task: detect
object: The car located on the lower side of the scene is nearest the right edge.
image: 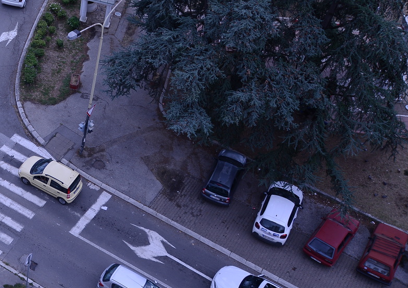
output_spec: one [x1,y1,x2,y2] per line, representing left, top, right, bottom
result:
[361,220,408,286]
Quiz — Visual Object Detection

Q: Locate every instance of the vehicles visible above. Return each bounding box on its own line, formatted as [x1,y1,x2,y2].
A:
[210,267,281,288]
[202,146,252,207]
[2,0,27,8]
[17,157,84,205]
[254,180,306,249]
[94,259,160,288]
[305,207,362,267]
[361,220,408,286]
